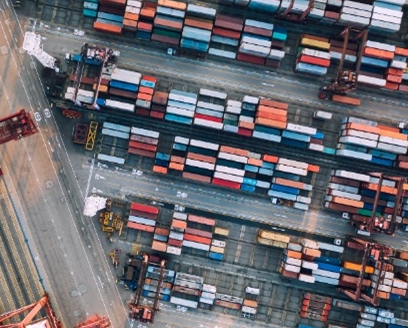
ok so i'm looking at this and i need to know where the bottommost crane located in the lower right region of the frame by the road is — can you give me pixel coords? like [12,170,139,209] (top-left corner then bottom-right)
[338,235,387,306]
